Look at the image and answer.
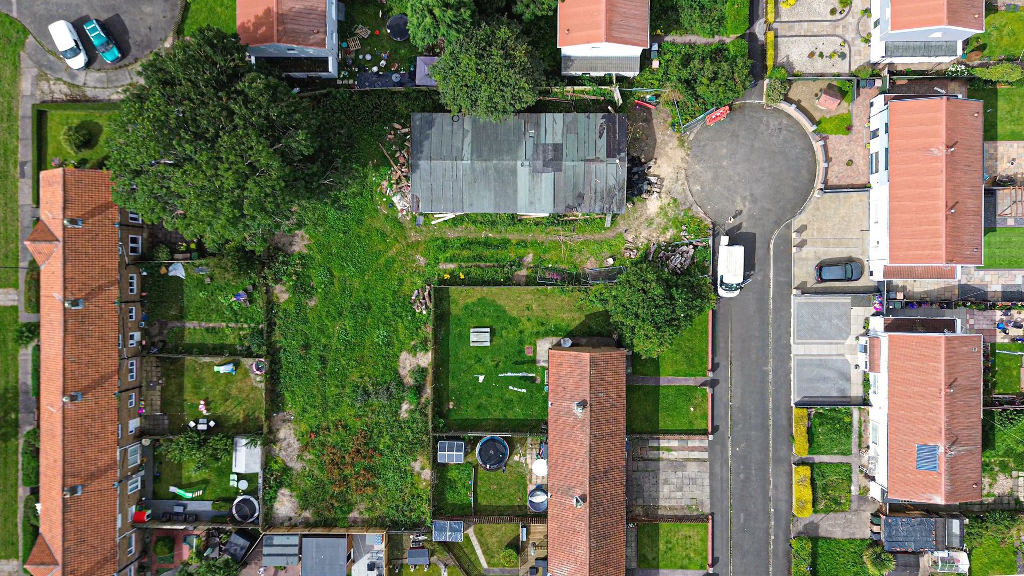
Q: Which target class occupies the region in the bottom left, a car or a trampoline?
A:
trampoline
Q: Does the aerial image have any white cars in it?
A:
Yes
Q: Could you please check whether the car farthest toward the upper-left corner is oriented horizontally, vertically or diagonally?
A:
diagonally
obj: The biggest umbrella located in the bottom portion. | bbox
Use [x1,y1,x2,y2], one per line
[531,459,546,477]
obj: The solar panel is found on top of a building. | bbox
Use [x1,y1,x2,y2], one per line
[916,444,939,472]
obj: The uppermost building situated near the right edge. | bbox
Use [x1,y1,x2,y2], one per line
[870,0,985,60]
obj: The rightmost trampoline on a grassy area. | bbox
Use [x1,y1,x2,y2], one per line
[475,436,509,472]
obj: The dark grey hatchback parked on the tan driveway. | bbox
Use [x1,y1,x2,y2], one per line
[815,259,862,283]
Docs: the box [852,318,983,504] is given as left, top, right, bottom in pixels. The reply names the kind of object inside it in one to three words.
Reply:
house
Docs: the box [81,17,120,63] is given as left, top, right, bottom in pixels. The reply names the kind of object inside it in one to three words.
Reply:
car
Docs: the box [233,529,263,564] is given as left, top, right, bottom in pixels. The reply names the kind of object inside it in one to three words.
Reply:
shed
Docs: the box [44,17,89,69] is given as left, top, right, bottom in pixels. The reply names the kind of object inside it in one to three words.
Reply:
car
